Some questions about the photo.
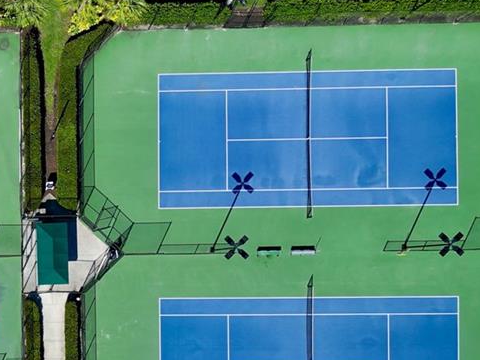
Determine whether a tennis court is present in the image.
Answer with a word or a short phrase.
Yes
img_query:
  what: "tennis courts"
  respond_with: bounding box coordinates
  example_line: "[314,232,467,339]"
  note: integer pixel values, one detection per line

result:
[158,68,458,209]
[159,296,459,360]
